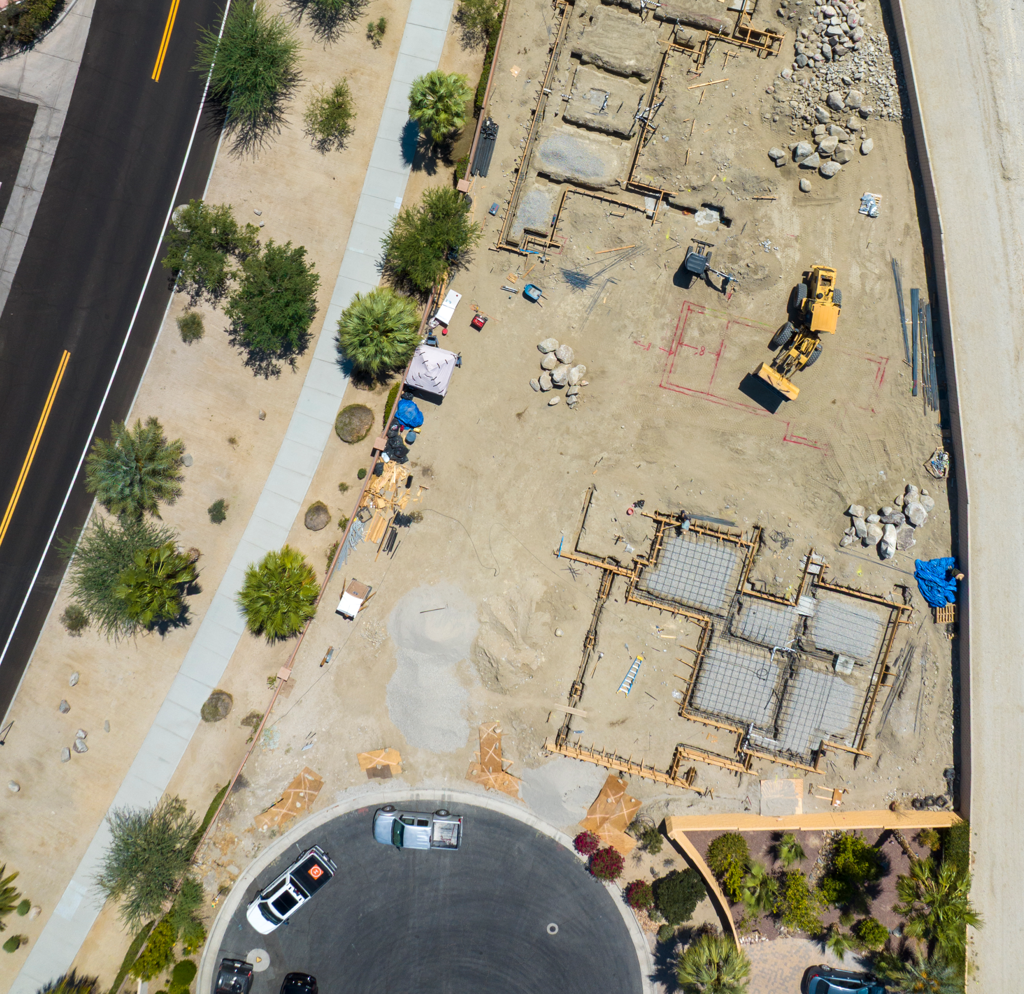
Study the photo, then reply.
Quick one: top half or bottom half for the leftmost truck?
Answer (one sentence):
The leftmost truck sits in the bottom half of the picture.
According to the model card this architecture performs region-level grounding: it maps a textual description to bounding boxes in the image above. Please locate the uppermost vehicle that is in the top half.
[682,238,737,281]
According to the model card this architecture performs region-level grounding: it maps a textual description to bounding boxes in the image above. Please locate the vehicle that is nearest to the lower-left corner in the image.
[212,954,253,994]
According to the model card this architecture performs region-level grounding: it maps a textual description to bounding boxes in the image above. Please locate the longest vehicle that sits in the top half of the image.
[755,268,842,398]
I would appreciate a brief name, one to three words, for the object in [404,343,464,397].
tent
